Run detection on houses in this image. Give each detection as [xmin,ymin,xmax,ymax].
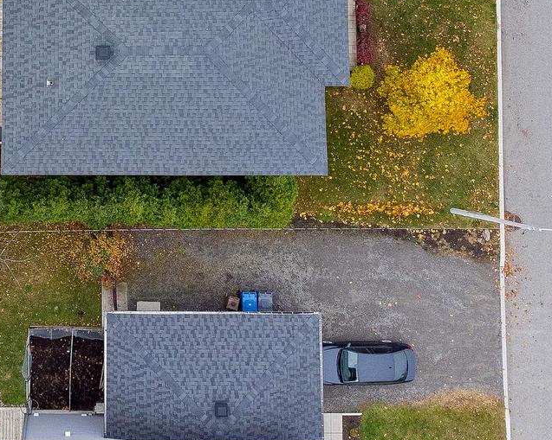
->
[0,0,352,176]
[24,307,324,440]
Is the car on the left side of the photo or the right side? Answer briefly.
right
